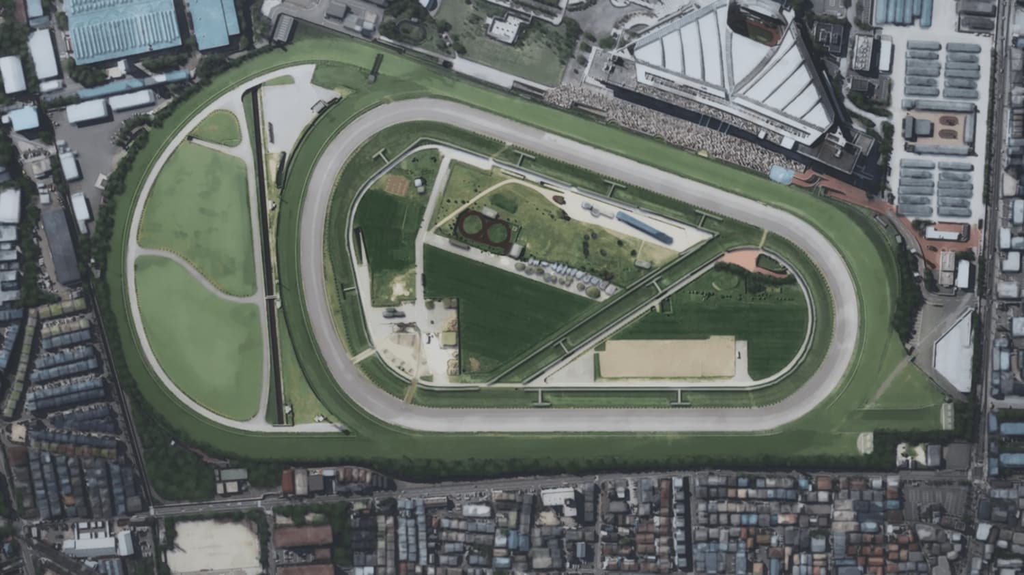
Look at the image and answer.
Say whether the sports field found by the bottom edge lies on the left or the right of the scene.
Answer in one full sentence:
You can find the sports field found by the bottom edge on the left side of the picture.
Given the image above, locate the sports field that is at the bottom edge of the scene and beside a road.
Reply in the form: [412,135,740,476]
[167,520,263,575]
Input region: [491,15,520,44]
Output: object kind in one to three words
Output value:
building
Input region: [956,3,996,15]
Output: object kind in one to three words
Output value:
barn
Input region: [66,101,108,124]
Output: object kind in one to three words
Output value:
building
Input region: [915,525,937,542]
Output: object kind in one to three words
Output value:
house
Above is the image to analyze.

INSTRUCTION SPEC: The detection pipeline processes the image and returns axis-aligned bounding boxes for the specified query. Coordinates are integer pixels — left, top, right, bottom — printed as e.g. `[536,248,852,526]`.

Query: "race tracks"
[109,18,947,465]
